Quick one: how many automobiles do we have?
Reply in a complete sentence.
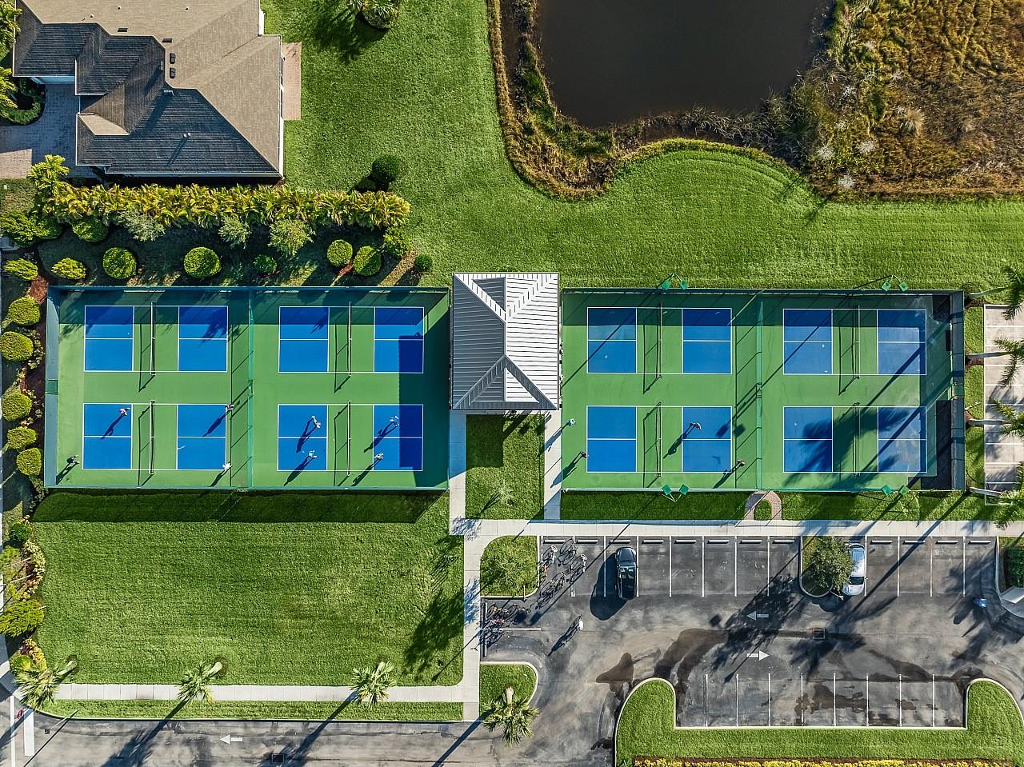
In total, there are 2 automobiles in the scene.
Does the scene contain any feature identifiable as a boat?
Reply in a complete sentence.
No, no boat can be seen from above.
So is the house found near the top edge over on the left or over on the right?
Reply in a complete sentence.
The house found near the top edge sits on the left side.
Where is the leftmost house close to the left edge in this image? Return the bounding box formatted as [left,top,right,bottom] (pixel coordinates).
[12,0,286,176]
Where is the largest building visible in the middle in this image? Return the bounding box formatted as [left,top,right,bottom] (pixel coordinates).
[452,272,560,411]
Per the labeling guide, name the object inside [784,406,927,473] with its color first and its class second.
blue sports court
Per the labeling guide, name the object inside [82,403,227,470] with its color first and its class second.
blue sports court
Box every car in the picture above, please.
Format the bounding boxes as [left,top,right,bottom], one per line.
[614,547,639,599]
[842,543,868,595]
